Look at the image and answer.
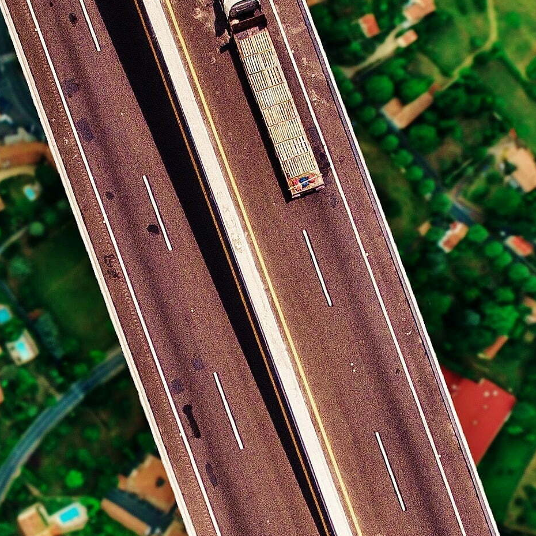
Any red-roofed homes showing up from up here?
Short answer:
Yes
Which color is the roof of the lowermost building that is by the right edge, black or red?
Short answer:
red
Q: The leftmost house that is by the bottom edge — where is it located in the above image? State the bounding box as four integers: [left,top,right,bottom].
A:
[17,499,61,536]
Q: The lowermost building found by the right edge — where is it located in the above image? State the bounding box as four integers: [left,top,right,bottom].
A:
[434,356,518,468]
